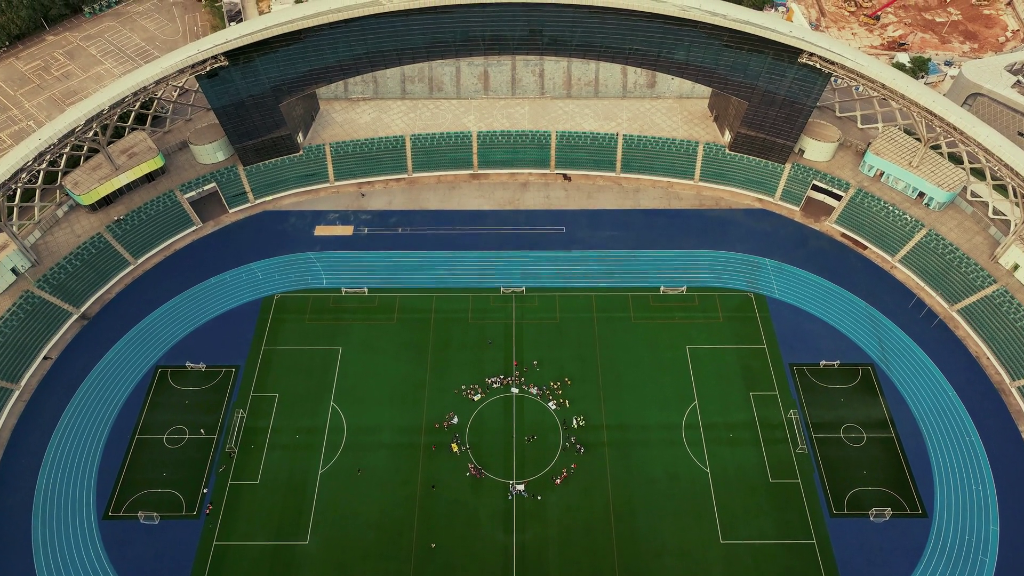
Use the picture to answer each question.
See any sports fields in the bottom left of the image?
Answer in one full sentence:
Yes, a sports field shows up in the bottom left of the image.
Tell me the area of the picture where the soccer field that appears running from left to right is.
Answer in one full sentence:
The soccer field that appears running from left to right is in the bottom part of the image.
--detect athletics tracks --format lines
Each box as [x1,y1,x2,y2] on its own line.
[0,209,1024,576]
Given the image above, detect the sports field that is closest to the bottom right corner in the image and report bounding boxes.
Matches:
[789,363,928,518]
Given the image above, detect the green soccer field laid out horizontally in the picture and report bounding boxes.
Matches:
[191,286,841,576]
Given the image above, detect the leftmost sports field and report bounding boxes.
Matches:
[103,365,240,519]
